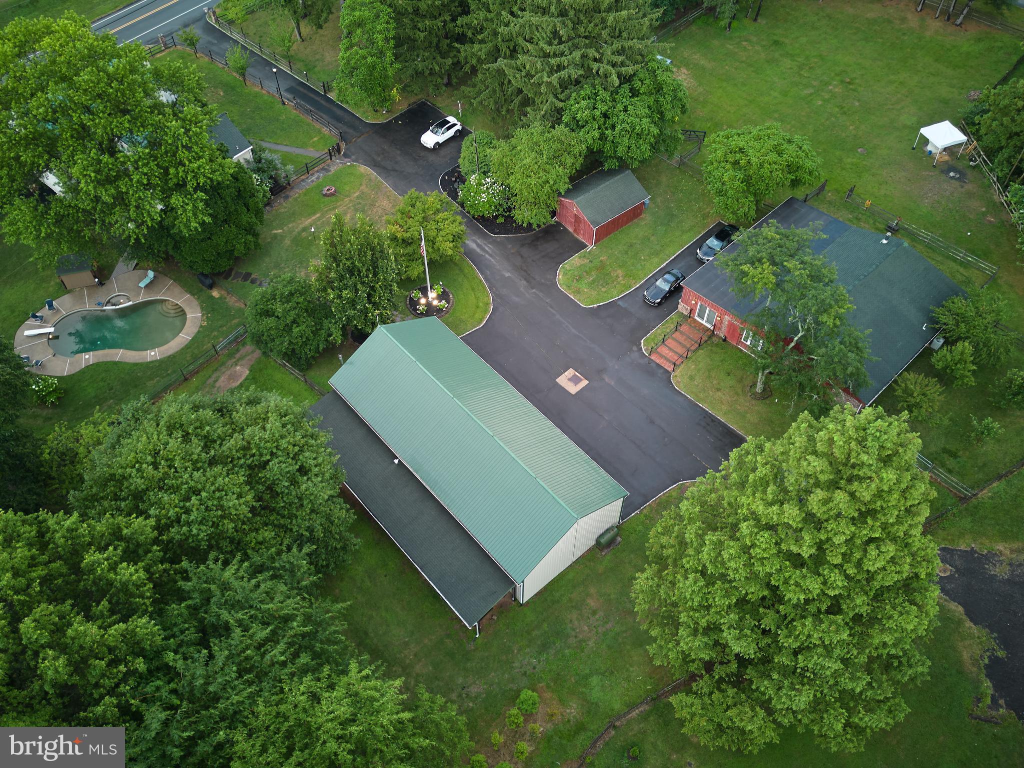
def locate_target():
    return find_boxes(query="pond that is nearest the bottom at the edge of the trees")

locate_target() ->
[925,549,1024,723]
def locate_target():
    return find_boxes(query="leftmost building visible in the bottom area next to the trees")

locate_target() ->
[298,316,631,648]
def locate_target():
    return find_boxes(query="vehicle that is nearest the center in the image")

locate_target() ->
[642,261,690,303]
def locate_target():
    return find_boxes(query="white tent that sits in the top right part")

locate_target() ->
[911,117,968,168]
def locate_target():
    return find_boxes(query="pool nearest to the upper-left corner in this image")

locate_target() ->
[15,270,201,376]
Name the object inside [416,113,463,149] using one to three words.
car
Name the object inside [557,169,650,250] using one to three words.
shed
